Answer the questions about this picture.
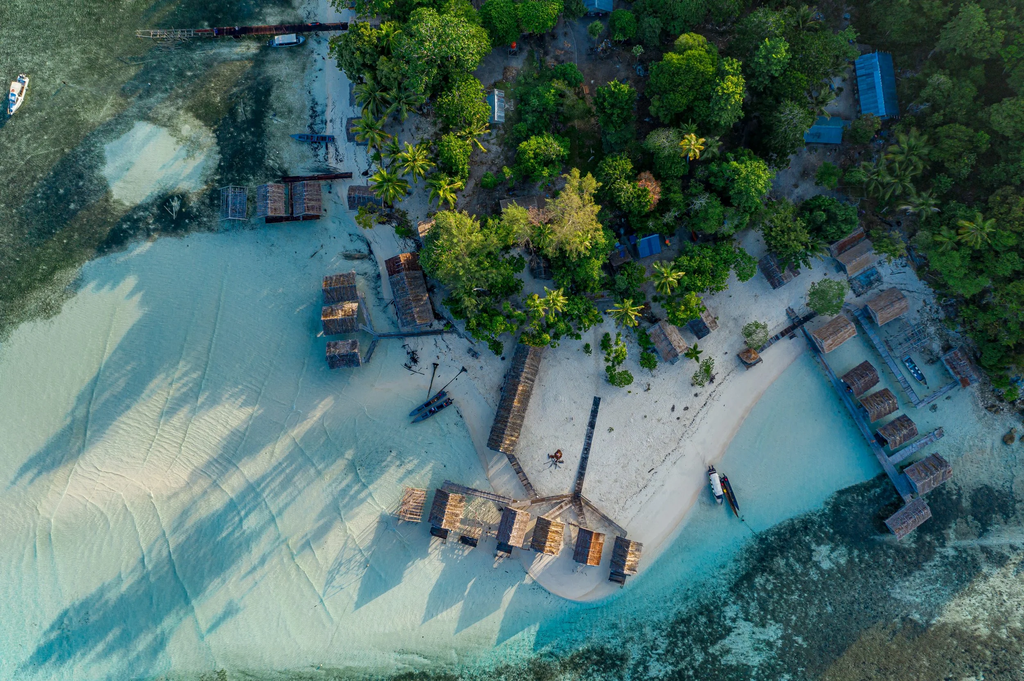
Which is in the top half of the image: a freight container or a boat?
boat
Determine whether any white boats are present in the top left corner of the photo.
Yes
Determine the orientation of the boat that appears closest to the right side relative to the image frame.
on a diagonal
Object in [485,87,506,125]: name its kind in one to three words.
building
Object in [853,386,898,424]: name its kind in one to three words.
shed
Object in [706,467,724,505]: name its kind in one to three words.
boat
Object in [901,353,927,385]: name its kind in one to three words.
boat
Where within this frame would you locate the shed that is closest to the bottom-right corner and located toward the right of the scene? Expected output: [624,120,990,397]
[873,494,930,538]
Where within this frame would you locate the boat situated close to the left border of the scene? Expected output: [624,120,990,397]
[7,72,32,115]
